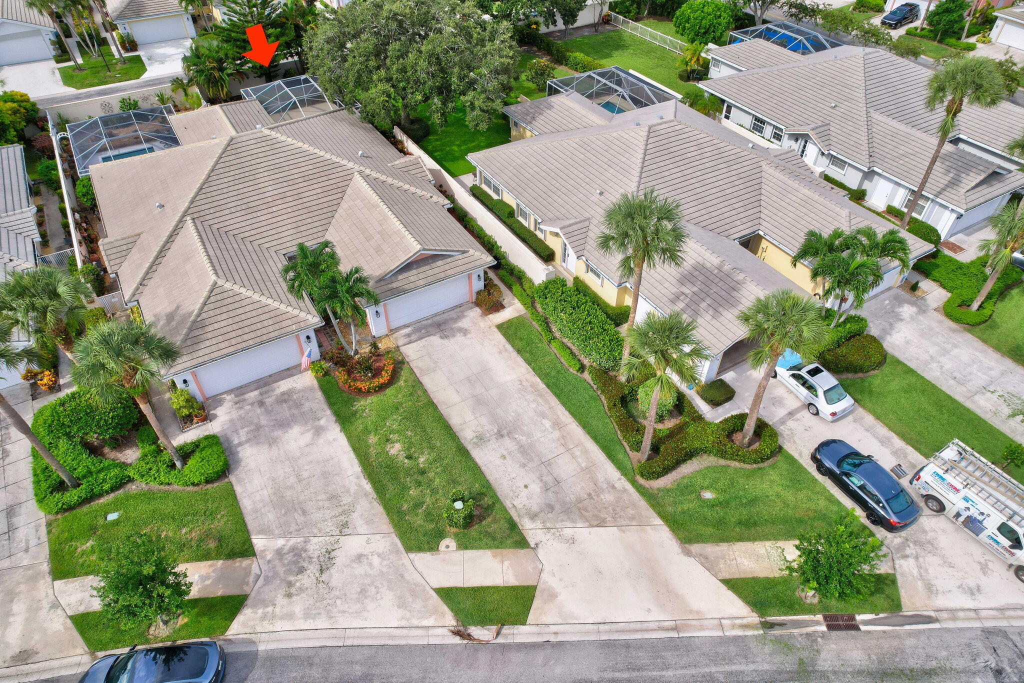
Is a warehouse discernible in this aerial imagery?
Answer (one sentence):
No, no warehouse can be seen from above.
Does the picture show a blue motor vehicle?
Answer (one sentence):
Yes, there's a blue motor vehicle here.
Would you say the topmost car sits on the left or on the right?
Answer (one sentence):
The topmost car is on the right side of the image.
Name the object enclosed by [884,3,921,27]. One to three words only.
car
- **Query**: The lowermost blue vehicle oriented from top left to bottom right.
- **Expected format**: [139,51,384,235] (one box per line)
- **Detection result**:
[814,443,930,536]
